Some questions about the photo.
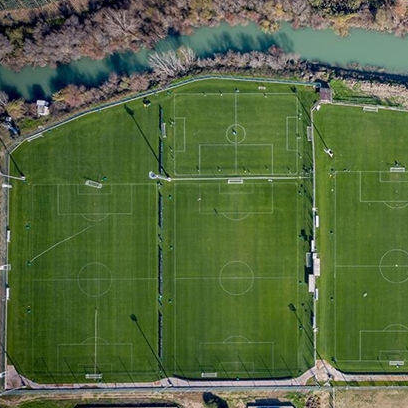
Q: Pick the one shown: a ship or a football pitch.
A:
football pitch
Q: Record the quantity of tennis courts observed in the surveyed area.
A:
zero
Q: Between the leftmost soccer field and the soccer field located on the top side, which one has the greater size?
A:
the leftmost soccer field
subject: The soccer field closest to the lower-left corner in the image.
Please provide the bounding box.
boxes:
[31,183,158,377]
